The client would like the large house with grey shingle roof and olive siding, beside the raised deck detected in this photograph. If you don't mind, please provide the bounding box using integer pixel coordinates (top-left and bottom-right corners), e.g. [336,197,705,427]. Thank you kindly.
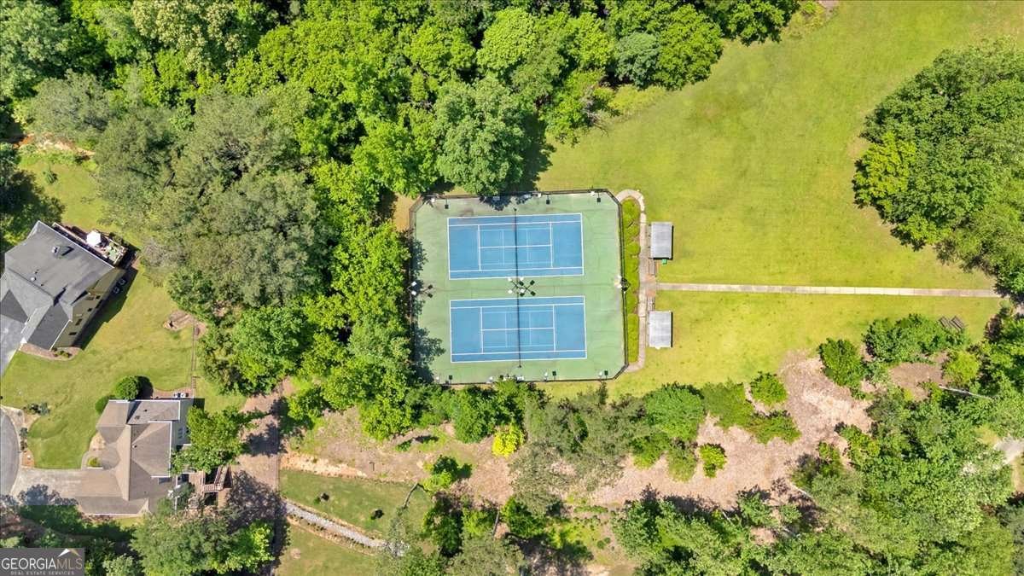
[0,218,126,354]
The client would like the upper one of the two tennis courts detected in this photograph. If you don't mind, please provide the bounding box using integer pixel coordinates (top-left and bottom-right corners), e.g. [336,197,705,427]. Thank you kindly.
[448,209,583,283]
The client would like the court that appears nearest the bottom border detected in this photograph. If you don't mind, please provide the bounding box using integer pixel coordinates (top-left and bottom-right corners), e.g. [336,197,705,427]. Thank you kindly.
[450,293,586,367]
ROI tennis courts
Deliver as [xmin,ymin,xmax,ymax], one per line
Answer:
[450,293,586,367]
[448,209,583,283]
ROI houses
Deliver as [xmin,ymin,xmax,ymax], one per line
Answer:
[79,397,192,515]
[0,218,126,354]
